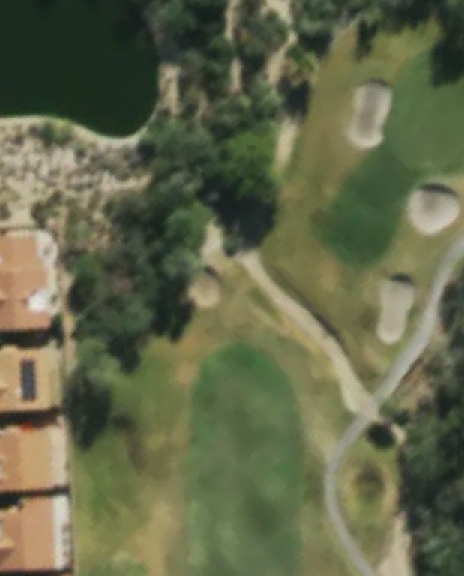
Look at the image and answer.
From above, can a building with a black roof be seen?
No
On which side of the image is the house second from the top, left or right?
left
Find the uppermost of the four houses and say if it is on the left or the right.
left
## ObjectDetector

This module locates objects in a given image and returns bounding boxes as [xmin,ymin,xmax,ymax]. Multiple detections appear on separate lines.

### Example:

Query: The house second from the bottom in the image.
[0,423,66,493]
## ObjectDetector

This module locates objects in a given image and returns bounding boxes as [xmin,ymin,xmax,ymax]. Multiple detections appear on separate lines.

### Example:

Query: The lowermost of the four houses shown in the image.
[0,496,71,570]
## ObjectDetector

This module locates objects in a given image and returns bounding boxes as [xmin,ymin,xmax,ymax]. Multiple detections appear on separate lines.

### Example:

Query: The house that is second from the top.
[0,344,63,412]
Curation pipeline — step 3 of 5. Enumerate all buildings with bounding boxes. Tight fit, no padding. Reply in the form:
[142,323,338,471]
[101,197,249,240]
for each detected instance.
[0,496,71,570]
[0,344,63,412]
[0,423,66,493]
[0,230,60,331]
